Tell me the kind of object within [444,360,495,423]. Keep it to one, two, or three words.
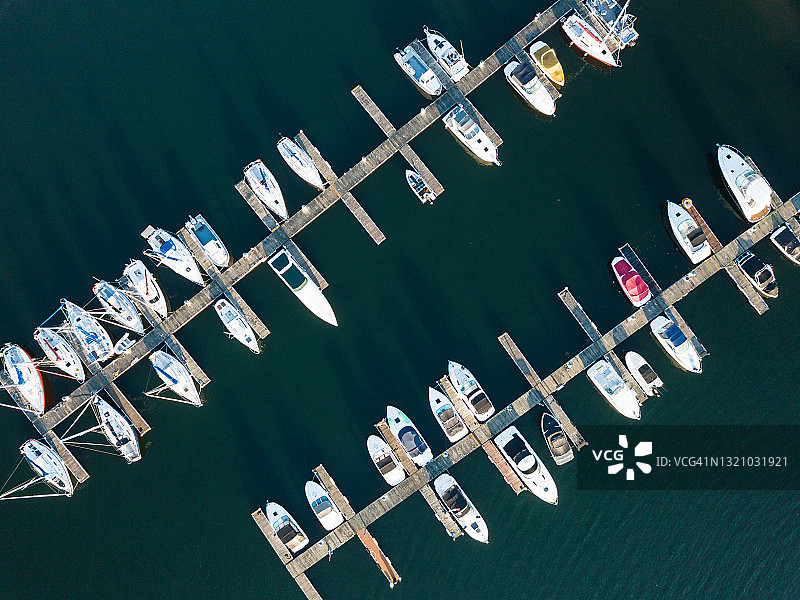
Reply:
boat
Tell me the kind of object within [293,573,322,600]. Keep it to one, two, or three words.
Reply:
pier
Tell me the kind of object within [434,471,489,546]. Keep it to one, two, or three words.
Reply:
boat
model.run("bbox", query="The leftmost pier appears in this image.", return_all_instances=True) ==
[0,367,43,424]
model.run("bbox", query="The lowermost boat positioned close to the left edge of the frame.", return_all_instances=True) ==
[3,438,78,502]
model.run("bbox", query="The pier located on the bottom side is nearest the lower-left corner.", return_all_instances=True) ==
[46,432,89,483]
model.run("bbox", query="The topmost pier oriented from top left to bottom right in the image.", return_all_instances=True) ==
[573,2,620,53]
